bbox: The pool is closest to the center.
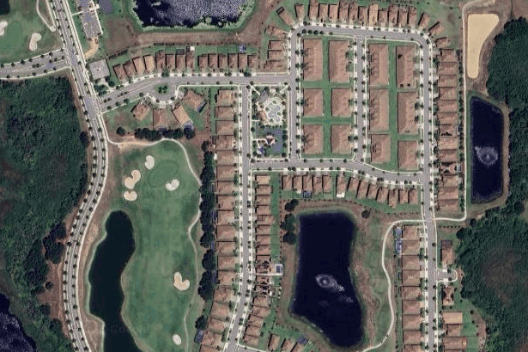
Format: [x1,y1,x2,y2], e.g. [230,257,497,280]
[257,96,285,125]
